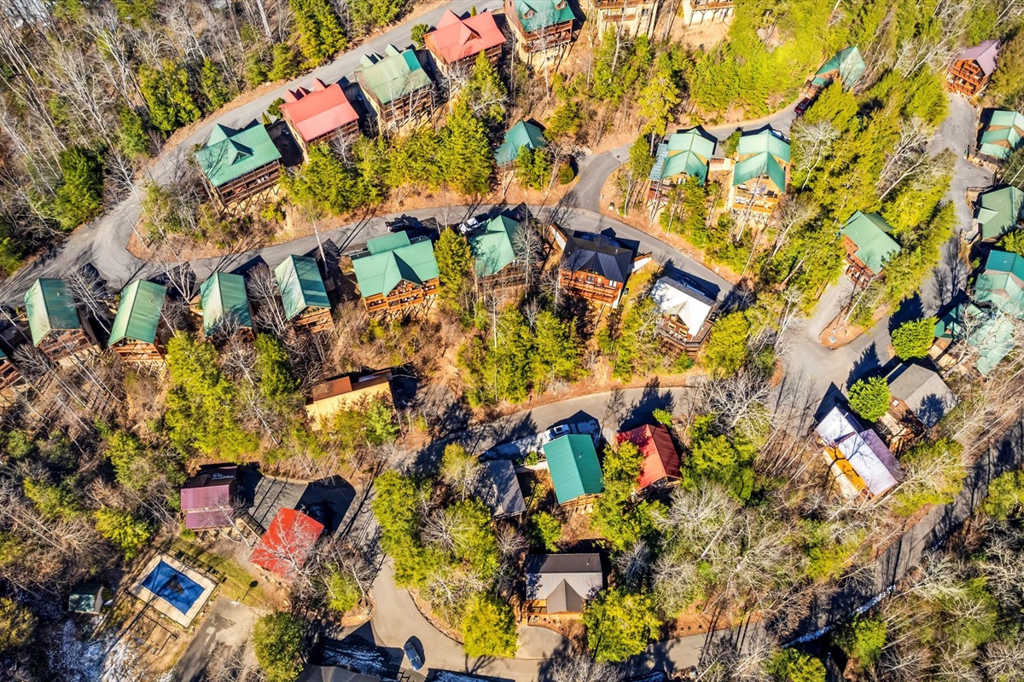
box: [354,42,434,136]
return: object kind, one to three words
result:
building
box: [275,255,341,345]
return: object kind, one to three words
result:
building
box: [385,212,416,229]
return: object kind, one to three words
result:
vehicle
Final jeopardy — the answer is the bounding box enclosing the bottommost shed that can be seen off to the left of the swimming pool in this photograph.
[68,585,108,615]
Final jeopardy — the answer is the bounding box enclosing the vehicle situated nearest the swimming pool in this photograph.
[307,504,339,526]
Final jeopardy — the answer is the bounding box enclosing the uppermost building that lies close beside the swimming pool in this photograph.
[180,466,244,537]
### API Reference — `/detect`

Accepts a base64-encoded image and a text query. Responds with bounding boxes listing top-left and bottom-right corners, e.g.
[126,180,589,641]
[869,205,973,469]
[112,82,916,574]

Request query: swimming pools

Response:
[128,553,217,626]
